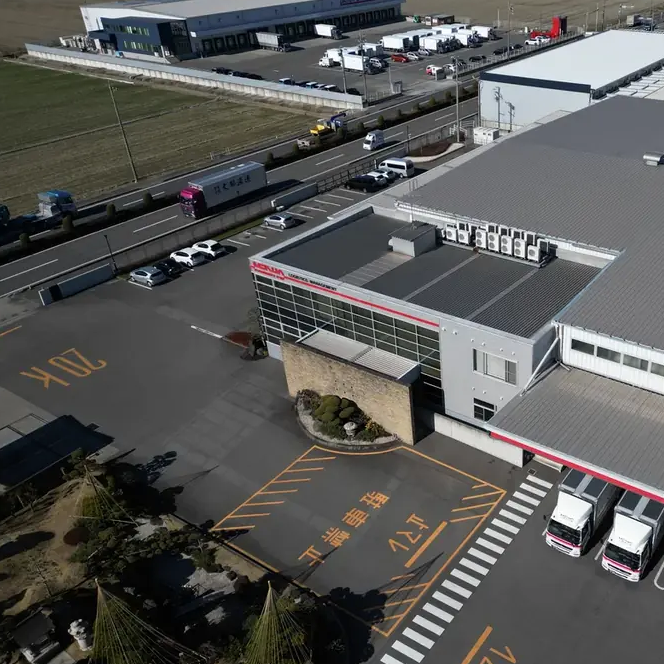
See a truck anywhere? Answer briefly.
Yes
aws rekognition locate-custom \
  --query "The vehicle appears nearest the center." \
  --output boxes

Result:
[260,213,293,230]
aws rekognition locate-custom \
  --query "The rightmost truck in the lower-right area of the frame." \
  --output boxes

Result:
[599,491,664,581]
